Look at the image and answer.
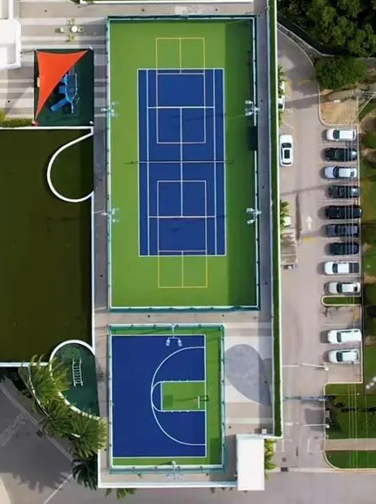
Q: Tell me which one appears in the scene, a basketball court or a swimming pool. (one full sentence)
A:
This aerial view contains a basketball court.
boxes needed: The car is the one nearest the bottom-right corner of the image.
[327,348,362,365]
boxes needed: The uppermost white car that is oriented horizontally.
[324,127,358,143]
